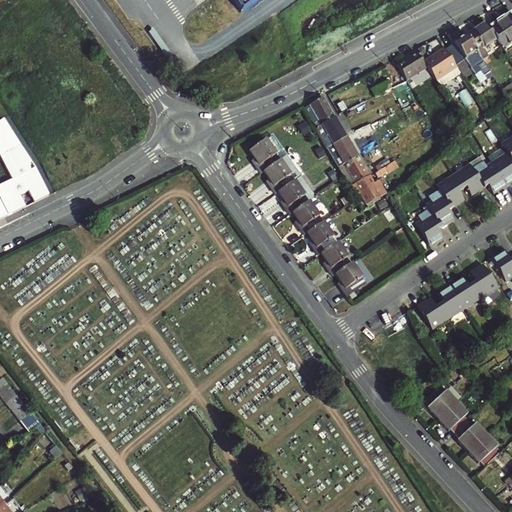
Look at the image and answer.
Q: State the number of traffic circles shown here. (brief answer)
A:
1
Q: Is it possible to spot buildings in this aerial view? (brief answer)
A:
Yes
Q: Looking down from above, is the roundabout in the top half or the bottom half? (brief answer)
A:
top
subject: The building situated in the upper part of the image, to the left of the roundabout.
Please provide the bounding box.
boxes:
[0,117,52,224]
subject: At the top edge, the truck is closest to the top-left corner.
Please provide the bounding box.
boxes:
[147,26,173,54]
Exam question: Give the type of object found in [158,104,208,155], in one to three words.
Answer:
roundabout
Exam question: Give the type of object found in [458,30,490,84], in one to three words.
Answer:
house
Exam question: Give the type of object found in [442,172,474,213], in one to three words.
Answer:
house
